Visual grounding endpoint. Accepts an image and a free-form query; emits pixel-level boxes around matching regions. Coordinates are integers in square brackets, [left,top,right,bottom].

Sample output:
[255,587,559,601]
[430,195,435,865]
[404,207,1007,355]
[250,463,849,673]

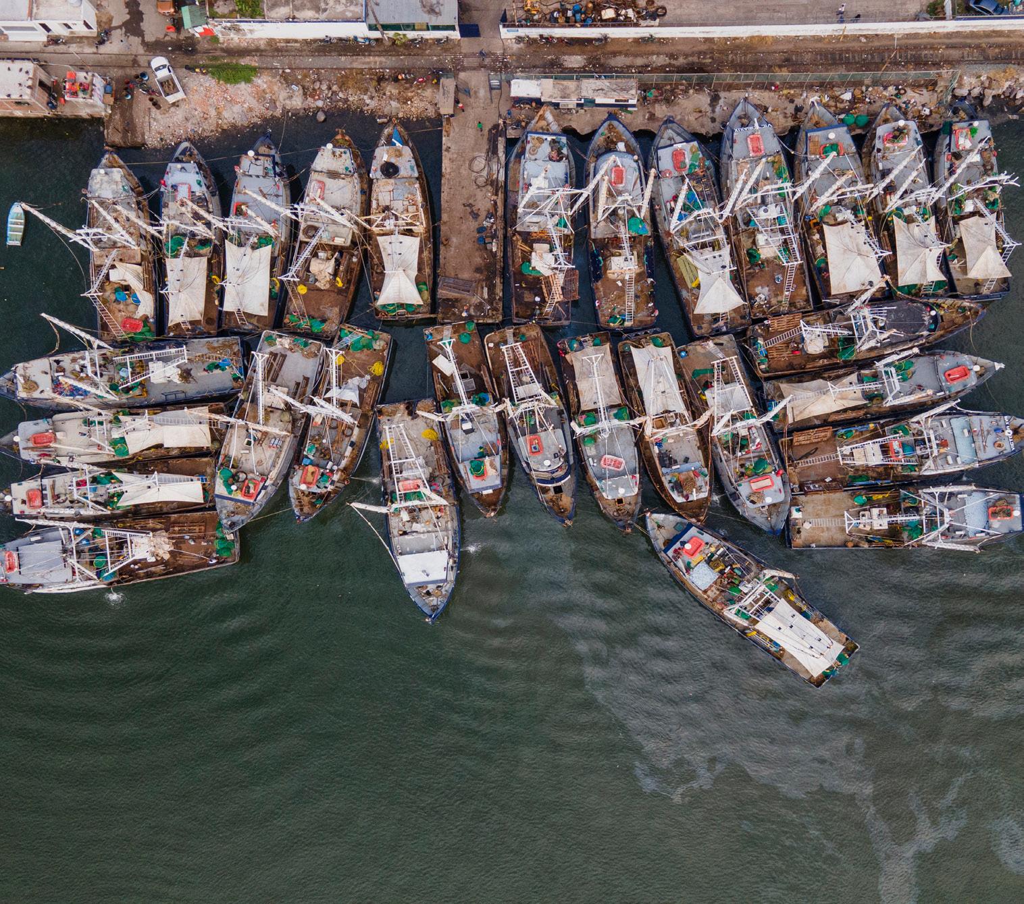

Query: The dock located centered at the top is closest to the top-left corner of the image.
[437,101,505,325]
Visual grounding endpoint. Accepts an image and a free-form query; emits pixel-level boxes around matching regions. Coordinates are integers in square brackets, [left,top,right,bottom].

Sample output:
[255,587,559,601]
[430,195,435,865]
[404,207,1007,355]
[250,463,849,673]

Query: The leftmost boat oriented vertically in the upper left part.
[7,202,26,247]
